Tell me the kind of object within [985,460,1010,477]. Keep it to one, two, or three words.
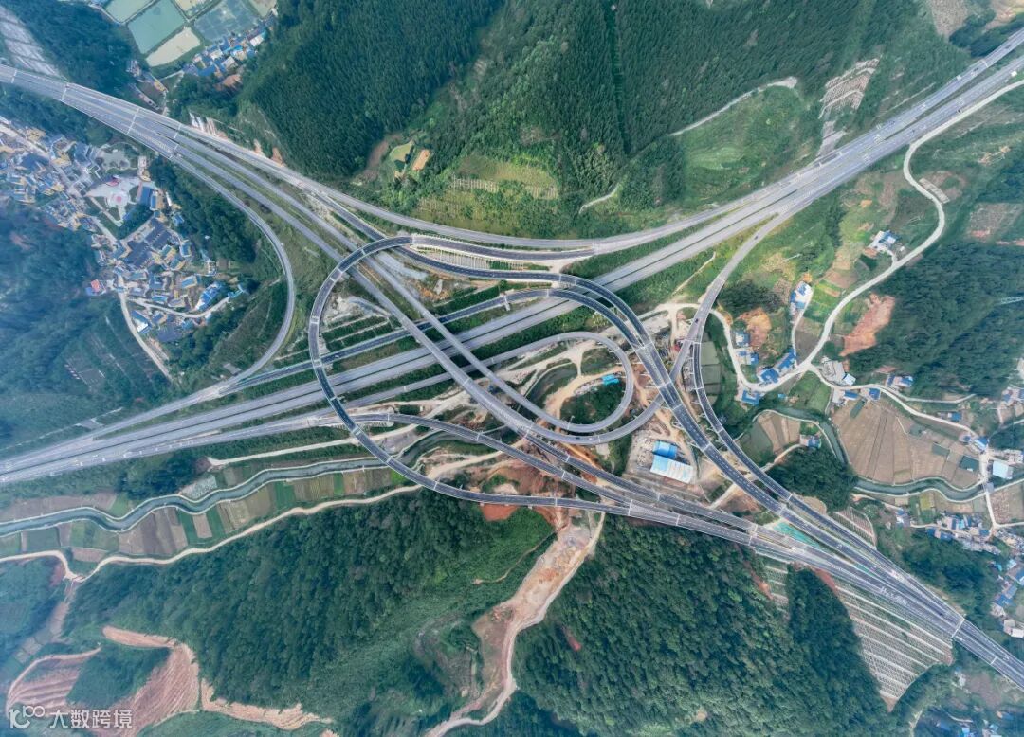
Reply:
house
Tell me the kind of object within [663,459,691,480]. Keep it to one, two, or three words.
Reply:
shed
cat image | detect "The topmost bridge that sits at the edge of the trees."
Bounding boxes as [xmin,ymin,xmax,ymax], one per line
[0,72,182,155]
